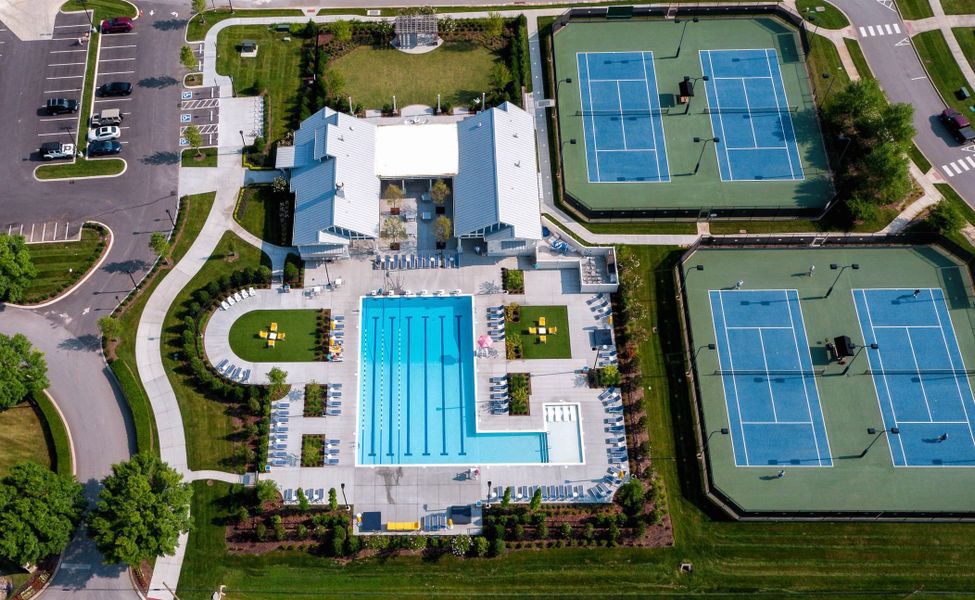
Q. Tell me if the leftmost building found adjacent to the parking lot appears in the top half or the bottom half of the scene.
top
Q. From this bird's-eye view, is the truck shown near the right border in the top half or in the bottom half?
top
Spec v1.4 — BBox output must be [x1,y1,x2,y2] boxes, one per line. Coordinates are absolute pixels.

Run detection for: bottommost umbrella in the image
[476,335,493,350]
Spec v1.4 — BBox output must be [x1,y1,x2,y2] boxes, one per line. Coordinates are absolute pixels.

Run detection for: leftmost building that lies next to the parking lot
[275,108,383,260]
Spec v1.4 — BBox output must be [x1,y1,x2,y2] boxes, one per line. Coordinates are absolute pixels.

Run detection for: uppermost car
[99,17,134,34]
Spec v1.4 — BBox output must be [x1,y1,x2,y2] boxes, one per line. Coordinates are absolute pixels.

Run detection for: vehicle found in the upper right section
[942,108,975,144]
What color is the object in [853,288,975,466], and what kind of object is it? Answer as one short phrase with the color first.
blue tennis court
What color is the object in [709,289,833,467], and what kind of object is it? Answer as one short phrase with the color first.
blue tennis court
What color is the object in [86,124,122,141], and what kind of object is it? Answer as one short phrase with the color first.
white car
